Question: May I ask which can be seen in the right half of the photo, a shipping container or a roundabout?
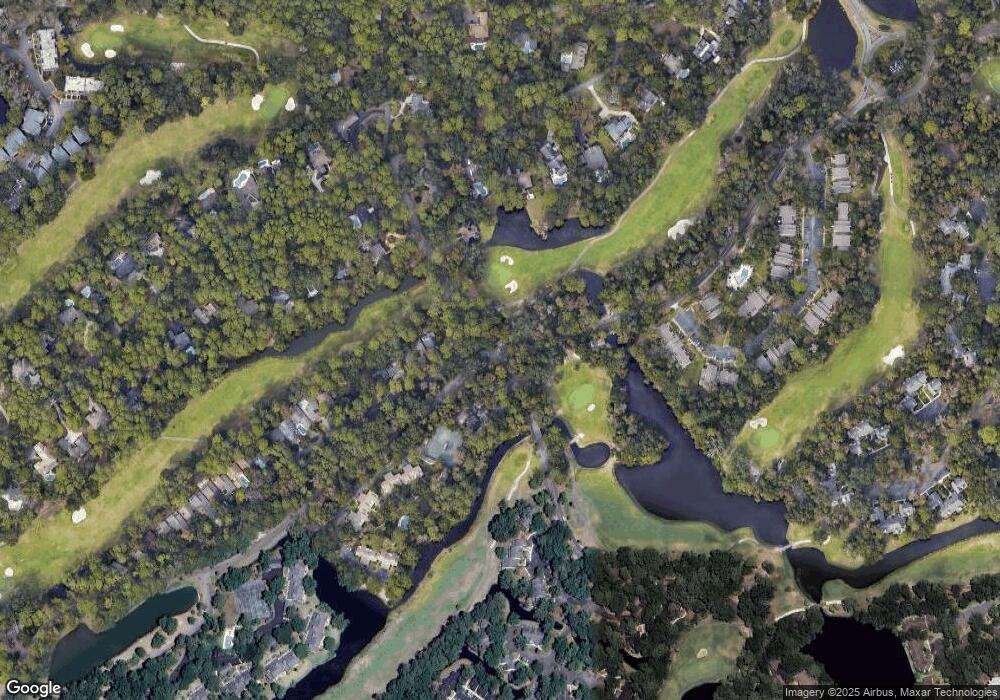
roundabout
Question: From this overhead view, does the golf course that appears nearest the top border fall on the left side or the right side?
left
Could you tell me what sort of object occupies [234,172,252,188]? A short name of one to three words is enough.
swimming pool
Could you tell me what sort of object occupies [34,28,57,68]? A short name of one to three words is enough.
building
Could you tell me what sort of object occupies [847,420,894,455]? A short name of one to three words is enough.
house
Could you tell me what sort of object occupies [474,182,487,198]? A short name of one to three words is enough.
swimming pool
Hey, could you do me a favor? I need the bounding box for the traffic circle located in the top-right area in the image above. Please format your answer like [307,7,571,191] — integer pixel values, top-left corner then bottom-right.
[861,30,931,104]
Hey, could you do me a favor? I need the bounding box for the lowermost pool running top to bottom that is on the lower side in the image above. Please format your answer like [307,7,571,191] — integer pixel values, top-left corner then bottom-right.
[223,627,236,650]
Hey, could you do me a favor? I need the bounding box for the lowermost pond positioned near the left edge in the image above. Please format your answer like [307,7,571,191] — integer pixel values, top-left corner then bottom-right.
[49,586,199,686]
